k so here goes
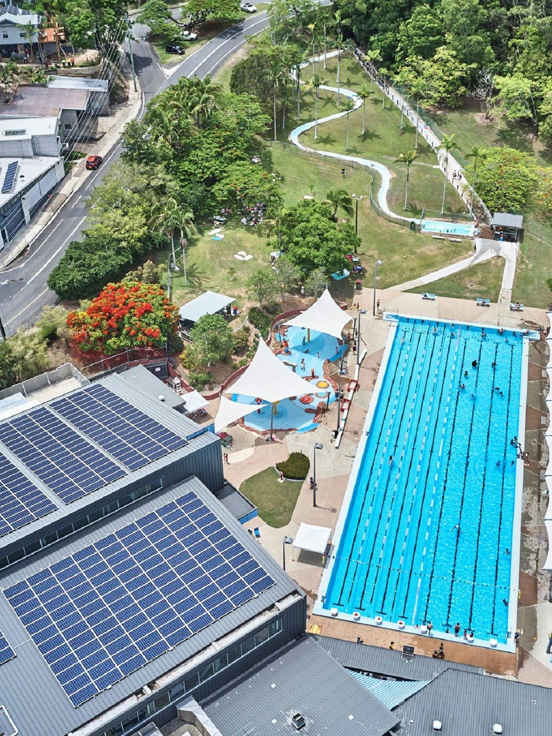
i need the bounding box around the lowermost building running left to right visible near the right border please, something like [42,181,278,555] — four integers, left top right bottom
[390,669,552,736]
